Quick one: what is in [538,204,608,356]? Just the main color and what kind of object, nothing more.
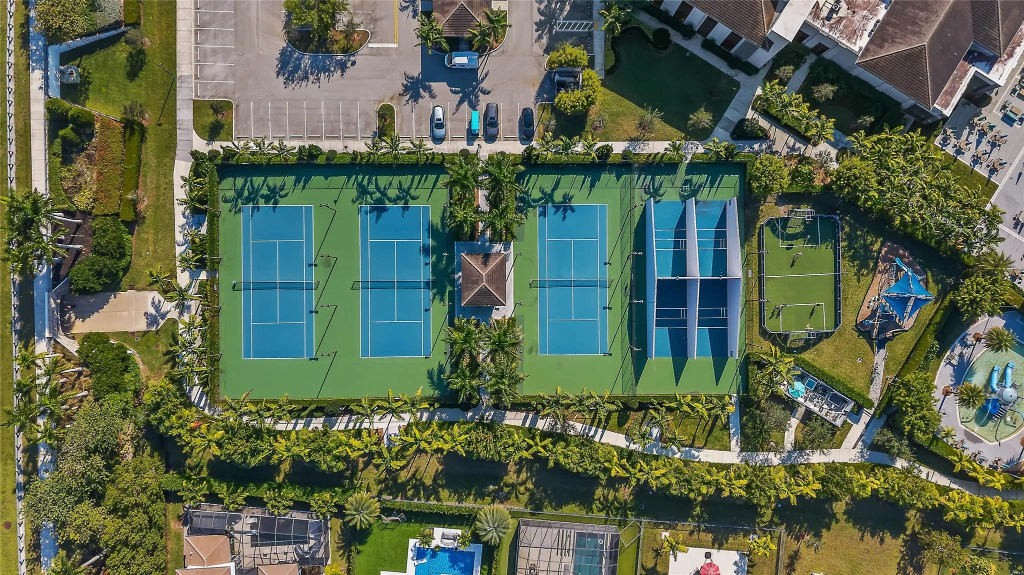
blue tennis court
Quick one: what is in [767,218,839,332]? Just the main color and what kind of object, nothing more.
green soccer field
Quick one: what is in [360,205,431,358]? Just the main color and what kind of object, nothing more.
blue tennis court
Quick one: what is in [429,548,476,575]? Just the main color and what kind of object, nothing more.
blue swimming pool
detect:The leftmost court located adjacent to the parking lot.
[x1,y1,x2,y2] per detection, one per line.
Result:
[242,205,315,359]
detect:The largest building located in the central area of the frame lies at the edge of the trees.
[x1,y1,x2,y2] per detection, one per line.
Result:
[460,253,507,307]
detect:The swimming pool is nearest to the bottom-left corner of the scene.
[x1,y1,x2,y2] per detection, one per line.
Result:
[249,517,312,549]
